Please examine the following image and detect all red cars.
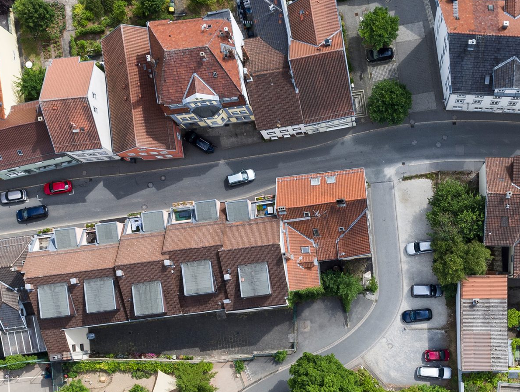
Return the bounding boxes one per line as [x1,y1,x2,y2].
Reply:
[45,180,74,194]
[424,348,450,363]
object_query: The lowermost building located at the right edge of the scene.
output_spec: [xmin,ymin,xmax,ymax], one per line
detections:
[460,274,509,372]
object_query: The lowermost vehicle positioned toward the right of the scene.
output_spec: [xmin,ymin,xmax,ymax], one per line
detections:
[417,366,451,379]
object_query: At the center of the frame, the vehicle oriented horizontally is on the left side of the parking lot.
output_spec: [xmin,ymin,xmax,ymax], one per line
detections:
[225,169,257,186]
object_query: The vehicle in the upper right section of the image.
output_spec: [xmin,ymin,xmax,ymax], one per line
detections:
[366,47,394,62]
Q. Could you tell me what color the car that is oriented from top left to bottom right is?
black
